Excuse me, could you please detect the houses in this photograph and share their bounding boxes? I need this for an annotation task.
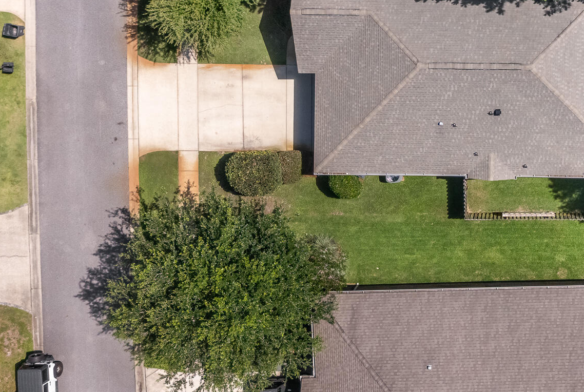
[291,0,584,181]
[298,280,584,392]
